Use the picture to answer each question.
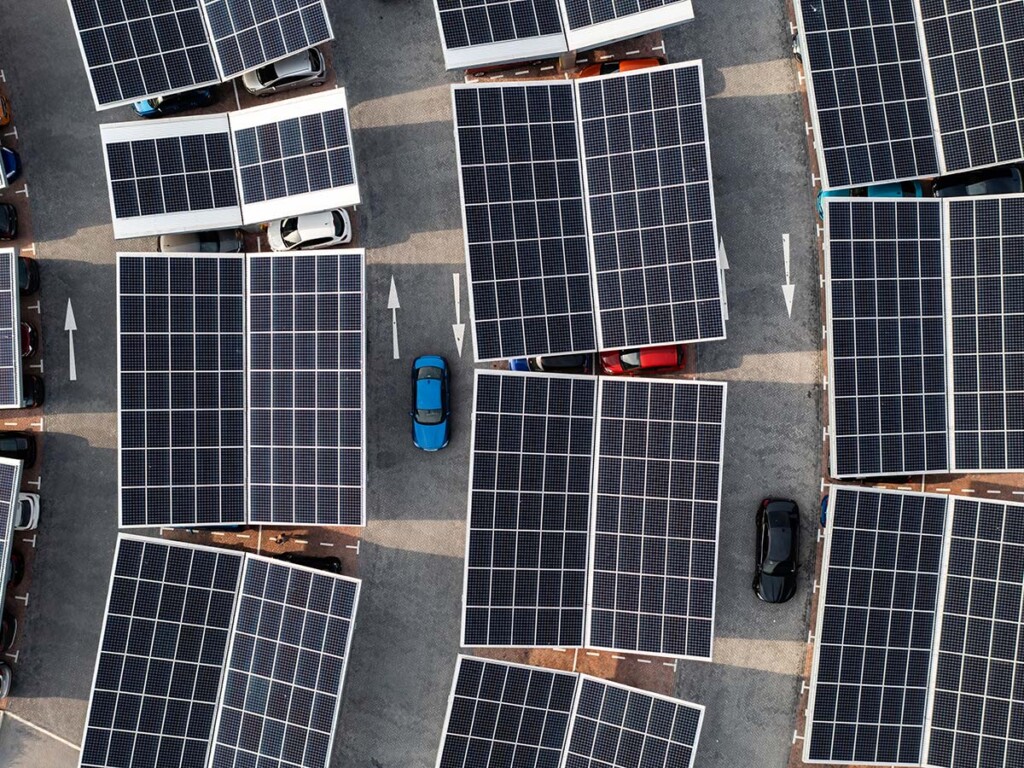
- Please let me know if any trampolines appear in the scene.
No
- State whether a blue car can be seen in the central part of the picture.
Yes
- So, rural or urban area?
urban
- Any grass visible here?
No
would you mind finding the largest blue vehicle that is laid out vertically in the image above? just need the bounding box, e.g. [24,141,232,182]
[407,355,452,451]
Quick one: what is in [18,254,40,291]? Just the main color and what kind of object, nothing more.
black car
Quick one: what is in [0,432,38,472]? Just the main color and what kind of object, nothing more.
black car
